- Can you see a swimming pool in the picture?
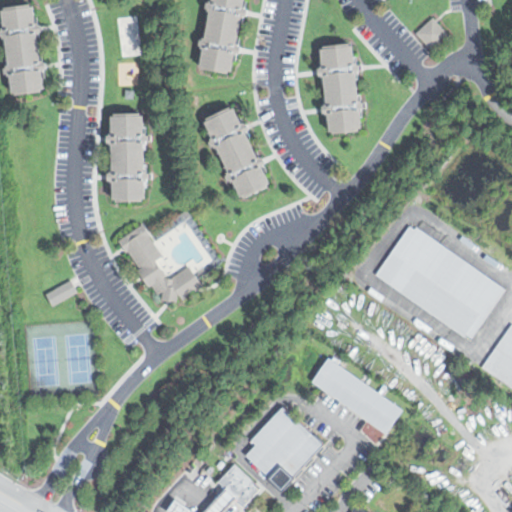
Yes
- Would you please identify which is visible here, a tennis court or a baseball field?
tennis court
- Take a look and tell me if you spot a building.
Yes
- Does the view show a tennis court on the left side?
Yes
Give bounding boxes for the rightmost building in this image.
[482,323,512,388]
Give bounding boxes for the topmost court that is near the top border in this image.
[118,16,141,58]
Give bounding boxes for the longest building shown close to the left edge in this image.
[0,6,47,94]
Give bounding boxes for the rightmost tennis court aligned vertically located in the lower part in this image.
[66,334,92,384]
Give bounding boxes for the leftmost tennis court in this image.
[33,337,59,386]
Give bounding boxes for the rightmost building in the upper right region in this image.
[416,18,444,46]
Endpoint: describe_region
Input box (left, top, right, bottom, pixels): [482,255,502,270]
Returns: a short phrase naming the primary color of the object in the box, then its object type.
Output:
white vehicle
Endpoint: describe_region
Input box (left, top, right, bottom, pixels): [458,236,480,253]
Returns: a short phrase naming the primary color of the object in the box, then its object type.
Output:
white vehicle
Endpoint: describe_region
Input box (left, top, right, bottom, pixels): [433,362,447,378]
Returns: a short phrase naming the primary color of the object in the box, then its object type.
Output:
white boat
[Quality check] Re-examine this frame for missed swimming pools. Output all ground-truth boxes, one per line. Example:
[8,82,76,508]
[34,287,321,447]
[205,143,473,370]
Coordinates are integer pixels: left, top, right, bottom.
[154,222,213,278]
